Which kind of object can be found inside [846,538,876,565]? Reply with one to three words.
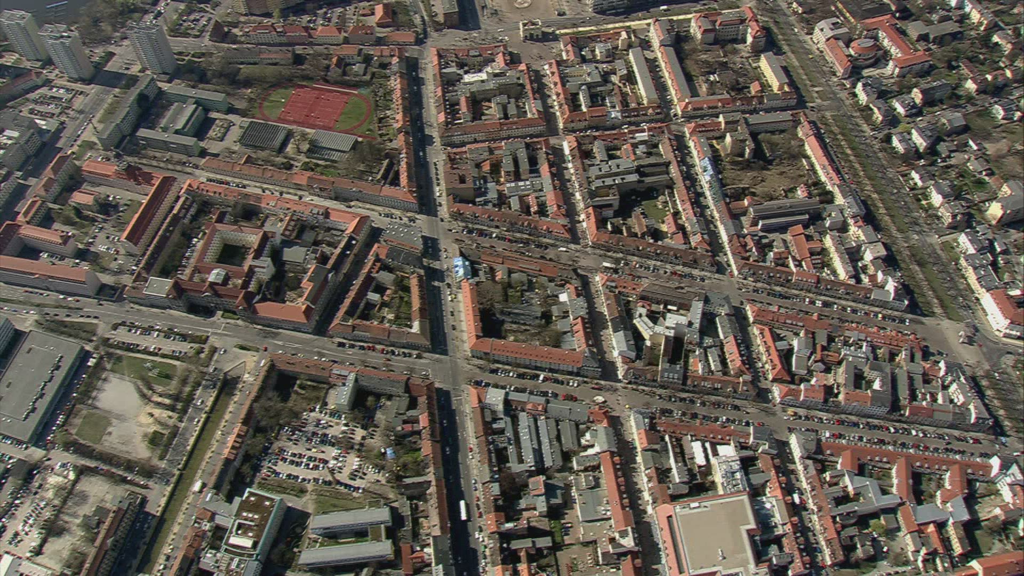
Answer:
building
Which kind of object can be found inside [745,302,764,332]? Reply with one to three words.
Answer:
house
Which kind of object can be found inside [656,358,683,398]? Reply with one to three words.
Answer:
building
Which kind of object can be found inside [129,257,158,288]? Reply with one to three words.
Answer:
house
